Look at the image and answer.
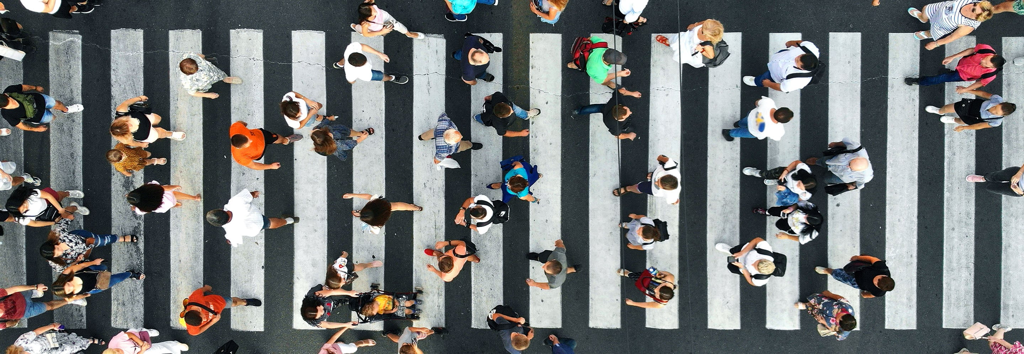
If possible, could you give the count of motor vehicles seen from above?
zero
